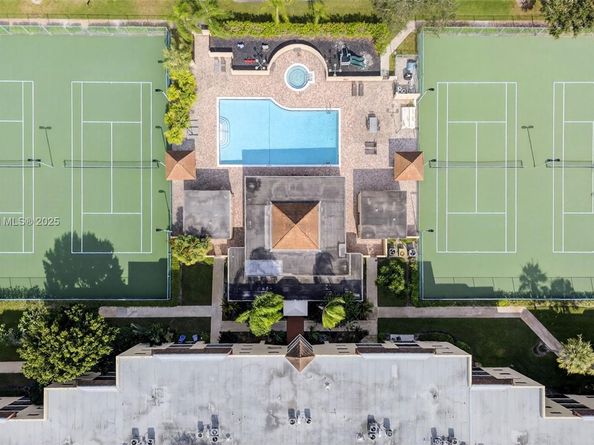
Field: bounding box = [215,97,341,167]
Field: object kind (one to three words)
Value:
swimming pool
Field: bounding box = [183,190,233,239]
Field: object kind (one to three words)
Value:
building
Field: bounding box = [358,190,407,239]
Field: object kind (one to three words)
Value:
building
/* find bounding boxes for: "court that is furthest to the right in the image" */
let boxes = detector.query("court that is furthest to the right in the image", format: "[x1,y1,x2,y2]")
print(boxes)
[533,35,594,298]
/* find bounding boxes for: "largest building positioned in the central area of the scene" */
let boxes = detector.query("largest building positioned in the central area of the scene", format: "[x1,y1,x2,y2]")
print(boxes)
[228,176,363,316]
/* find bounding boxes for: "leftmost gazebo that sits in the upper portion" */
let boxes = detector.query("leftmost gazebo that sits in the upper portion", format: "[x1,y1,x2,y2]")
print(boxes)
[166,150,198,181]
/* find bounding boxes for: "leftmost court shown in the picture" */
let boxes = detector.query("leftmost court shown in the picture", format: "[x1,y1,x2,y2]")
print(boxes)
[0,35,55,298]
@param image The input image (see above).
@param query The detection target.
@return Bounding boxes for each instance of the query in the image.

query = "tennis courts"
[533,35,594,298]
[0,35,55,298]
[50,35,172,298]
[418,35,538,298]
